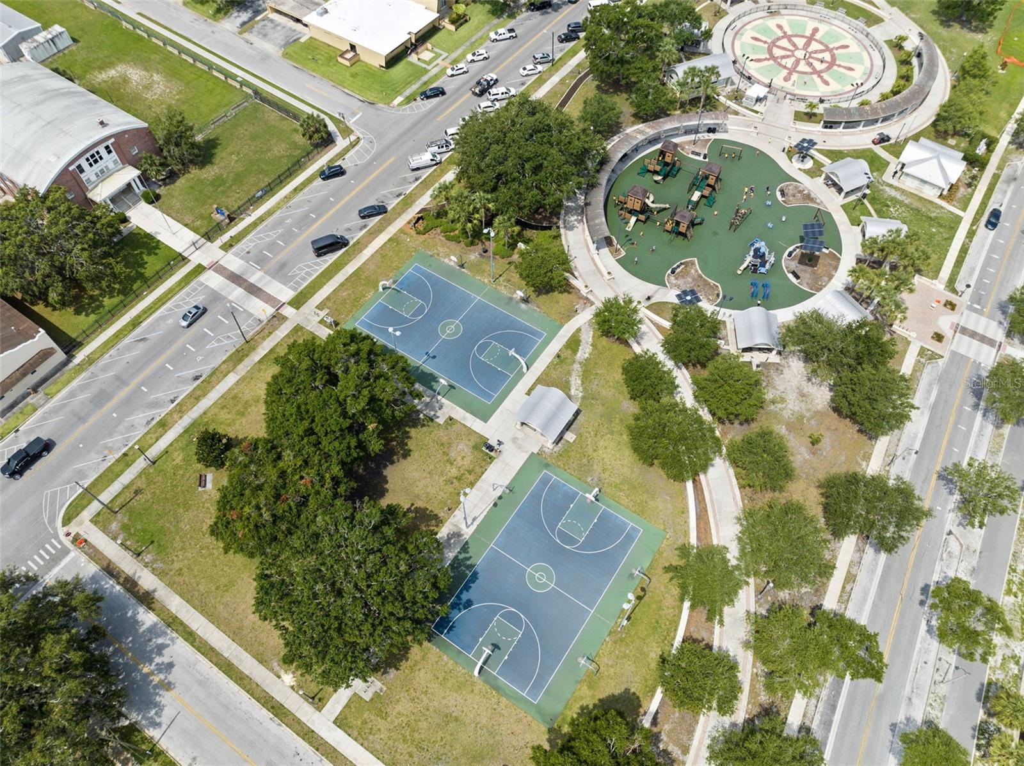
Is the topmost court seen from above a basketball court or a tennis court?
basketball court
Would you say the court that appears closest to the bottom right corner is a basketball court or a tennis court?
basketball court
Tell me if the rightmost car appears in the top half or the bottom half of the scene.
top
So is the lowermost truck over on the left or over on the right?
left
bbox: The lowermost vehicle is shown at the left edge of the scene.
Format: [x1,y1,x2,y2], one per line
[3,438,50,477]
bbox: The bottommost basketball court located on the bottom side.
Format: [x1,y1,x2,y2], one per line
[406,453,667,728]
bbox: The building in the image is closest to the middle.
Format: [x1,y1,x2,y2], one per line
[513,385,579,452]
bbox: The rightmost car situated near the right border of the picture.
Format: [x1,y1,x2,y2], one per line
[982,208,1002,230]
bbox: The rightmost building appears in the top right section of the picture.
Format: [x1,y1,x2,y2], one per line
[890,140,967,205]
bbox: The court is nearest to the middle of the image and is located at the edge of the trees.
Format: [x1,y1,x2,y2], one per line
[341,249,564,423]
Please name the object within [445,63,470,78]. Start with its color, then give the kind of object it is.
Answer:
white car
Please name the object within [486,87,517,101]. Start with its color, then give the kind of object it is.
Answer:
white vehicle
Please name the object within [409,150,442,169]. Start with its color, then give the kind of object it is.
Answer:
white vehicle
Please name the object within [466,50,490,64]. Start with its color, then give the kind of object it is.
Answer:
white car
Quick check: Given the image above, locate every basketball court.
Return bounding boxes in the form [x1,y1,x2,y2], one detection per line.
[406,453,667,728]
[341,249,564,423]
